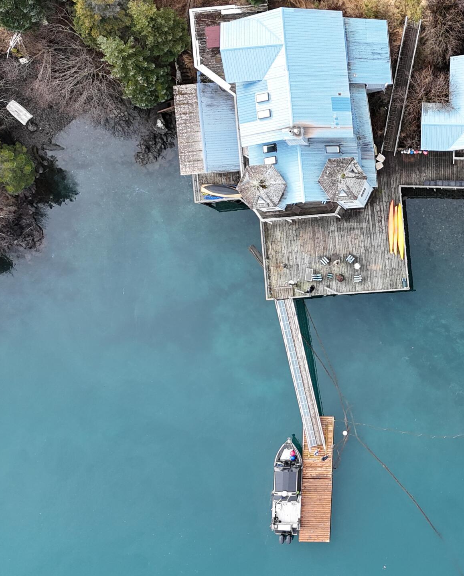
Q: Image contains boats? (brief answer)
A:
Yes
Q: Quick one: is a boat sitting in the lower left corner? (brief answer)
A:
No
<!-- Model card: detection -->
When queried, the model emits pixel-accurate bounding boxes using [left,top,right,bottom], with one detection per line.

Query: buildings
[220,6,394,215]
[421,55,464,165]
